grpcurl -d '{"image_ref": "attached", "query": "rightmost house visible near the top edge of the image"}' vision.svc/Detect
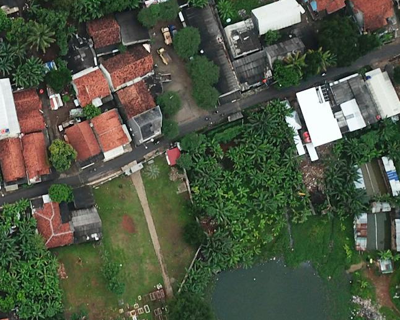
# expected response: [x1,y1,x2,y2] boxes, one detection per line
[355,0,397,30]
